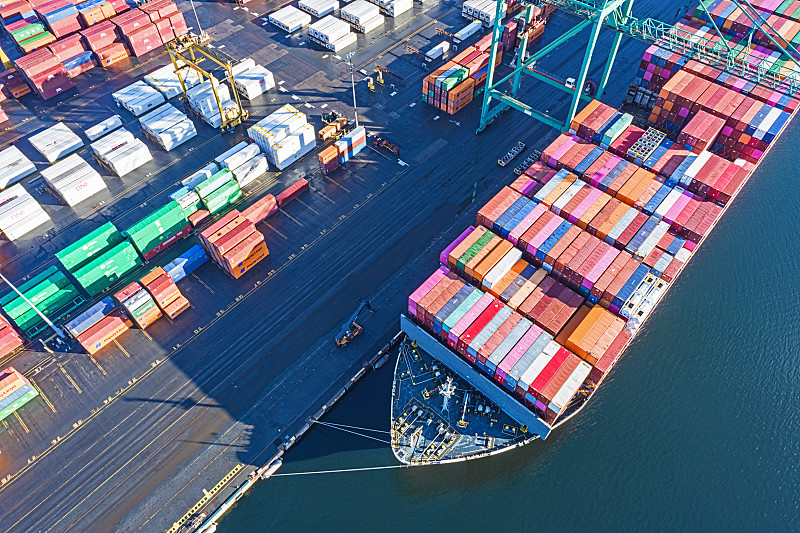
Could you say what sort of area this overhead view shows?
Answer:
port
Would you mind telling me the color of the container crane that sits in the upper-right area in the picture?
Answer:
blue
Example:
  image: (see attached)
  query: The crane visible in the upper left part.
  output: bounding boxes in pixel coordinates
[167,37,250,131]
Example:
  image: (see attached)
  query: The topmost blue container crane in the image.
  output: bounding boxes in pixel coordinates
[474,0,800,134]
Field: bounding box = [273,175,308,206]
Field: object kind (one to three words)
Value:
shipping container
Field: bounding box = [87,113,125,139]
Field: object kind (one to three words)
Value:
shipping container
